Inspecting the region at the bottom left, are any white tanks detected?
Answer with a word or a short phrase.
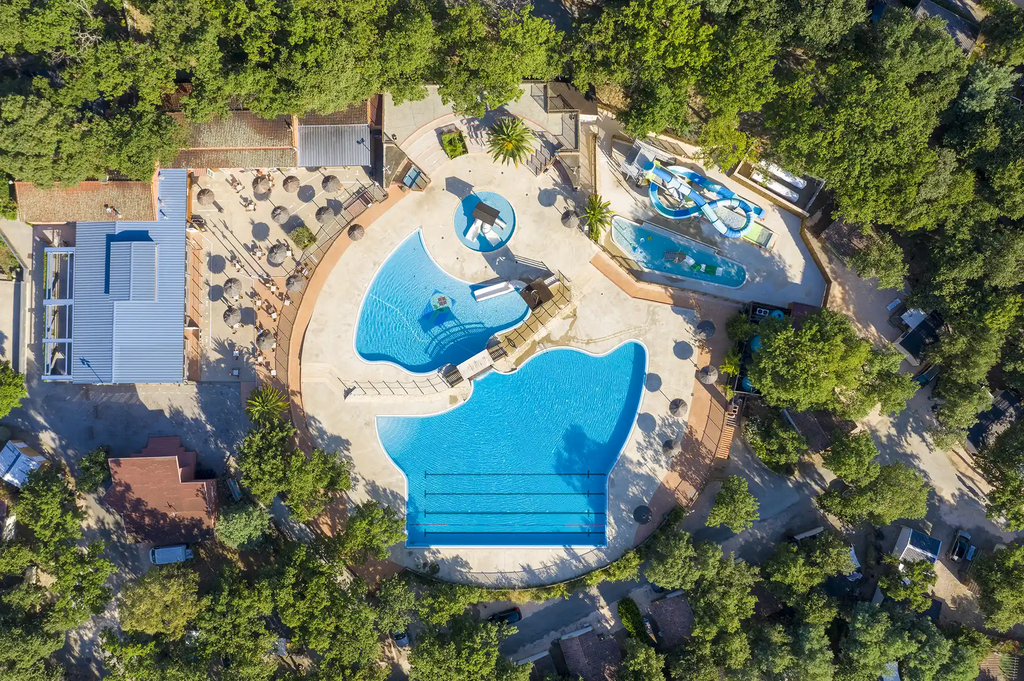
No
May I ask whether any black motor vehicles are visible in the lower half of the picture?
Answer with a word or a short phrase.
Yes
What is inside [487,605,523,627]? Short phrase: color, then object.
black car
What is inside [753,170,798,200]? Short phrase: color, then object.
white storage tank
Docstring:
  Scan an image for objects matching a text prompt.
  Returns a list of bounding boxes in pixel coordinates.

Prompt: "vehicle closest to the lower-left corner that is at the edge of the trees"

[149,545,192,566]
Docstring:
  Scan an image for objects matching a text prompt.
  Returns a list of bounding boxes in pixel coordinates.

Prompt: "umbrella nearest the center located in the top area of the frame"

[559,210,579,228]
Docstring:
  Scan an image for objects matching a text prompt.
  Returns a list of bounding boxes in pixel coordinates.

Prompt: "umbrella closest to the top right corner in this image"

[696,319,715,339]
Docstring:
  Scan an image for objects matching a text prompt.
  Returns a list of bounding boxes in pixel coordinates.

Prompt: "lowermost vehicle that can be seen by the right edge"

[946,528,973,565]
